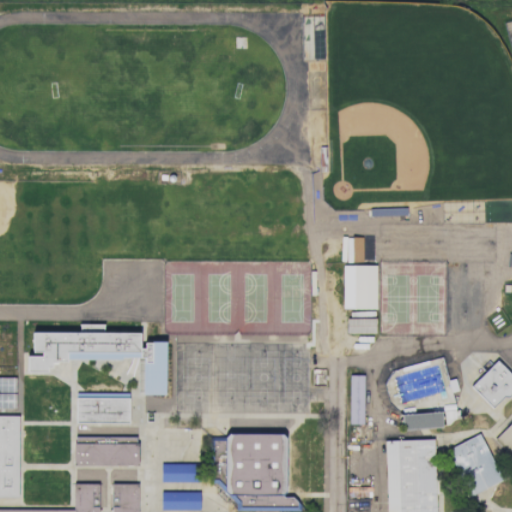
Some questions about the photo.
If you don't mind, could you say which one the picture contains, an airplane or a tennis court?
tennis court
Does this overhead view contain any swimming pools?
Yes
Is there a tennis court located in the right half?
Yes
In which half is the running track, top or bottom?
top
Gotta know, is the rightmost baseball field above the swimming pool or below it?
above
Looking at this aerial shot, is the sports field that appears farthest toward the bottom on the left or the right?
left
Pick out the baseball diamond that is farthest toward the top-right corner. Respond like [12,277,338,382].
[325,3,512,211]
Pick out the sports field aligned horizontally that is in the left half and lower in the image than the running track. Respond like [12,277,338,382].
[0,171,310,304]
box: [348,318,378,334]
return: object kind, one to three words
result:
shed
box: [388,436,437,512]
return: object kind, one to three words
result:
building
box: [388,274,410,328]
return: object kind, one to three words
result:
tennis court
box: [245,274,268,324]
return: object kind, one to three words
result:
tennis court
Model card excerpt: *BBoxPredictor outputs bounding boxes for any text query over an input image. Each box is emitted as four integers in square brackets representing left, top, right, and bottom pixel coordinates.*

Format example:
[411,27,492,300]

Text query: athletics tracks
[0,12,310,164]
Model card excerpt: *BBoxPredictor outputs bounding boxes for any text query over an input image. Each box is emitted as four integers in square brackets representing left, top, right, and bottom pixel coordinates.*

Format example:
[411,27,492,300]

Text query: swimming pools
[388,358,455,412]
